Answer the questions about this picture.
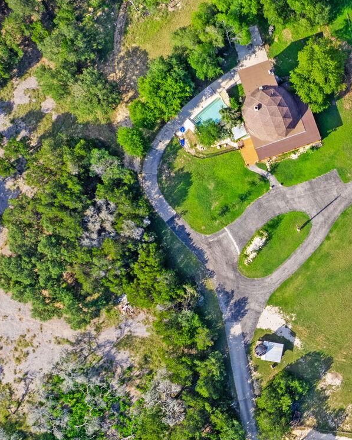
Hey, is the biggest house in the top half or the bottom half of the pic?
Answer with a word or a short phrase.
top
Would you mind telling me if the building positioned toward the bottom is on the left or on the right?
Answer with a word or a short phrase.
right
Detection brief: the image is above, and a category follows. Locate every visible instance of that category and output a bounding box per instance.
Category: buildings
[238,60,323,164]
[260,340,286,362]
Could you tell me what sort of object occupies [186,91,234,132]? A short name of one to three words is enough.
swimming pool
